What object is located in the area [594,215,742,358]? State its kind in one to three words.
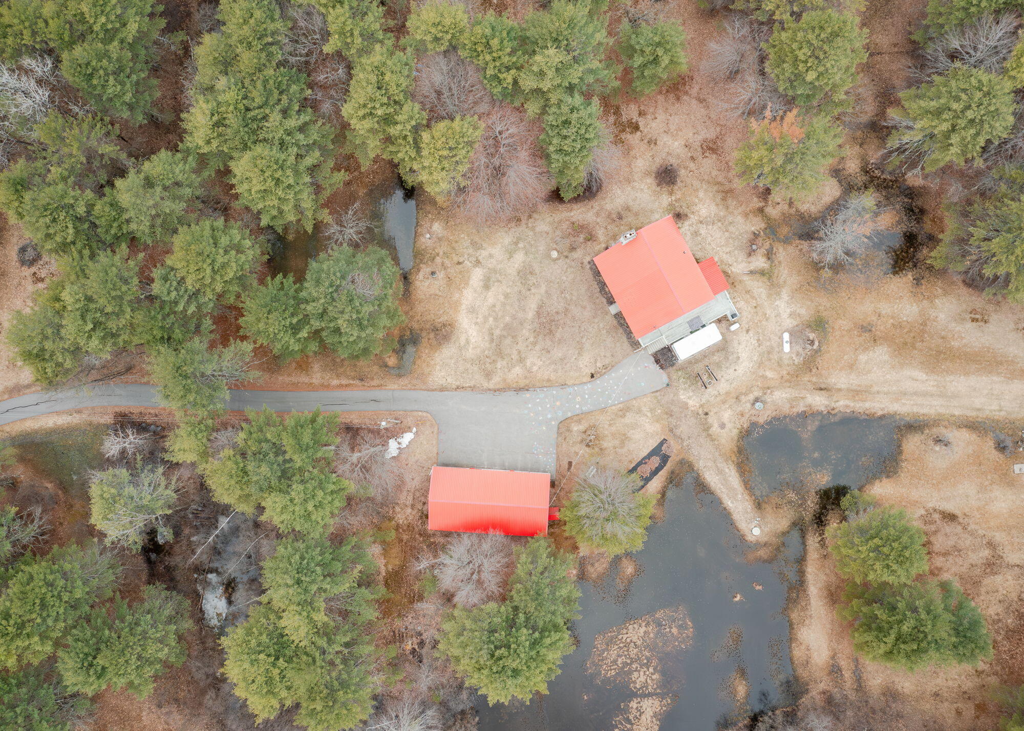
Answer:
house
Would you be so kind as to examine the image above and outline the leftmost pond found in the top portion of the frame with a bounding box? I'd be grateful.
[269,227,331,285]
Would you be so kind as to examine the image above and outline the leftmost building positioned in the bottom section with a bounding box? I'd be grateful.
[429,466,558,536]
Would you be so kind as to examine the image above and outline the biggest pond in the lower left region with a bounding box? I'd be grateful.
[200,507,276,640]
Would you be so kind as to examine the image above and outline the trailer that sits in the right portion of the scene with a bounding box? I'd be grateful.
[665,324,721,360]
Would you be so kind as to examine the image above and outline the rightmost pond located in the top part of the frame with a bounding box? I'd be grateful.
[774,225,903,278]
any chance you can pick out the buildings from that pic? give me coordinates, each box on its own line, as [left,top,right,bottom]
[594,215,742,358]
[429,466,558,536]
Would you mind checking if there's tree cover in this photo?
Yes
